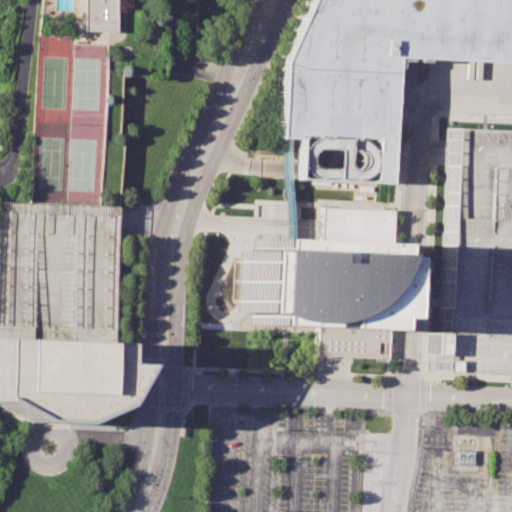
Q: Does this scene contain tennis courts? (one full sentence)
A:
Yes, the photo shows a tennis court.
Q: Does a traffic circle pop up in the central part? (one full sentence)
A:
No, in the central part there is no traffic circle.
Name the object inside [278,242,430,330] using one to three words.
building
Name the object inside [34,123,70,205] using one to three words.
tennis court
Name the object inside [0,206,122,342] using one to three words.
building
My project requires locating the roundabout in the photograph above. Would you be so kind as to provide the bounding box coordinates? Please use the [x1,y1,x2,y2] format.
[24,428,74,470]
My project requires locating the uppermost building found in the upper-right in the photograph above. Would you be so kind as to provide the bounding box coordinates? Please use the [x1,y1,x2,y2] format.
[283,0,512,184]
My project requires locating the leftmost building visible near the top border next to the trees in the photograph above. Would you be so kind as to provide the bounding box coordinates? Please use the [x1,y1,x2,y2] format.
[88,0,122,32]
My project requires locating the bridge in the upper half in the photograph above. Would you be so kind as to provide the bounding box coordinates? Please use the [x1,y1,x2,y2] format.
[284,140,298,240]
